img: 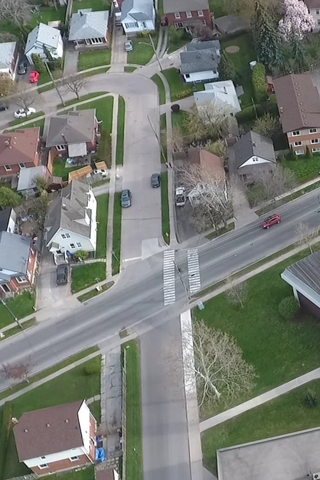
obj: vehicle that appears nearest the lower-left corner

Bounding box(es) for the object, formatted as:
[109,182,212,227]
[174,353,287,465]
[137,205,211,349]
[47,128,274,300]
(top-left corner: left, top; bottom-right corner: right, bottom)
[54,261,69,287]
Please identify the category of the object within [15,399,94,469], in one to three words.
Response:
house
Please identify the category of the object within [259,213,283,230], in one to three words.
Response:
car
